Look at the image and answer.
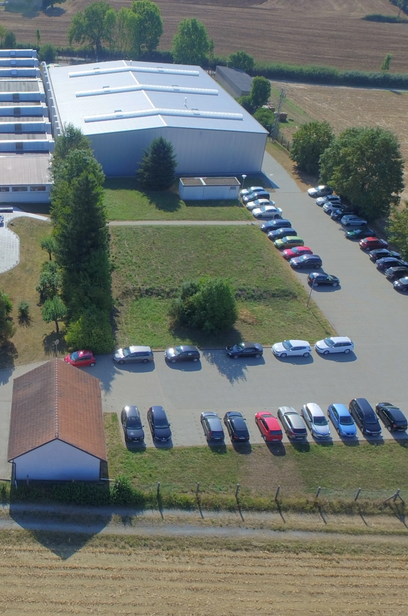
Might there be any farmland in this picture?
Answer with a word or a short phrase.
Yes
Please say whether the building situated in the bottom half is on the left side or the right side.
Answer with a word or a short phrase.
left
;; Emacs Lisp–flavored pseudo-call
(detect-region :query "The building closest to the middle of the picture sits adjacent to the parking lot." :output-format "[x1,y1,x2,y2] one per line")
[179,176,242,200]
